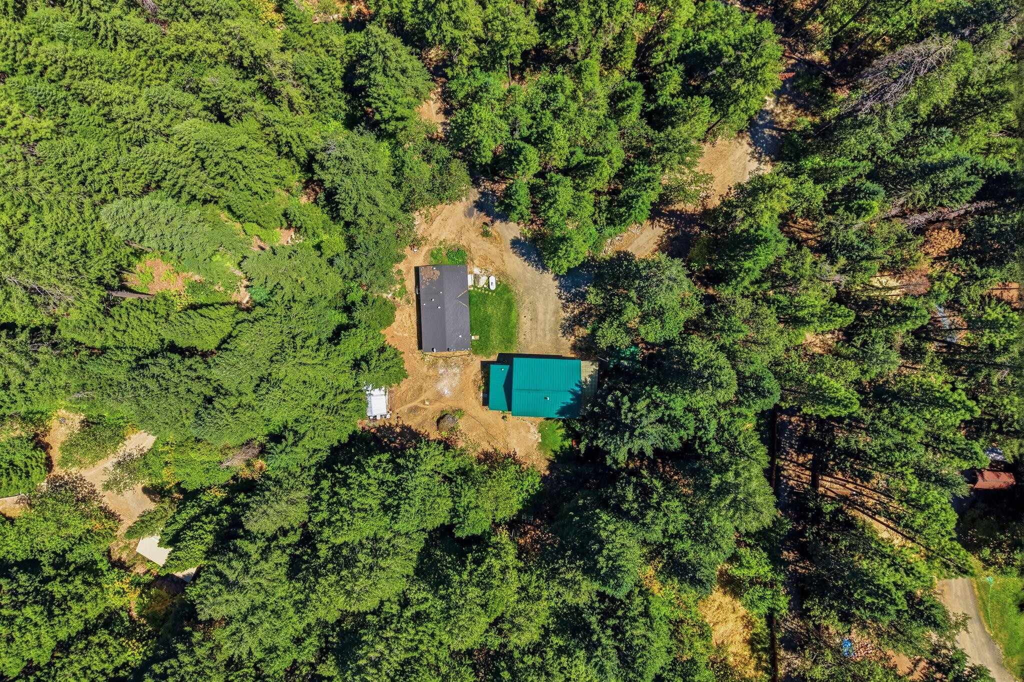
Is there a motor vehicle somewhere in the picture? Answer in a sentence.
No, the photo shows no motor vehicle.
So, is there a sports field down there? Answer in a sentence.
No, I find no sports field anywhere in the image.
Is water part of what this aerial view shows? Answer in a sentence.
No, there is no water in the image.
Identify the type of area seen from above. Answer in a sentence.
What you see here is a forest.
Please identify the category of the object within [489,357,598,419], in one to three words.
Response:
building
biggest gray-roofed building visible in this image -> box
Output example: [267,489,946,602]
[419,264,472,353]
